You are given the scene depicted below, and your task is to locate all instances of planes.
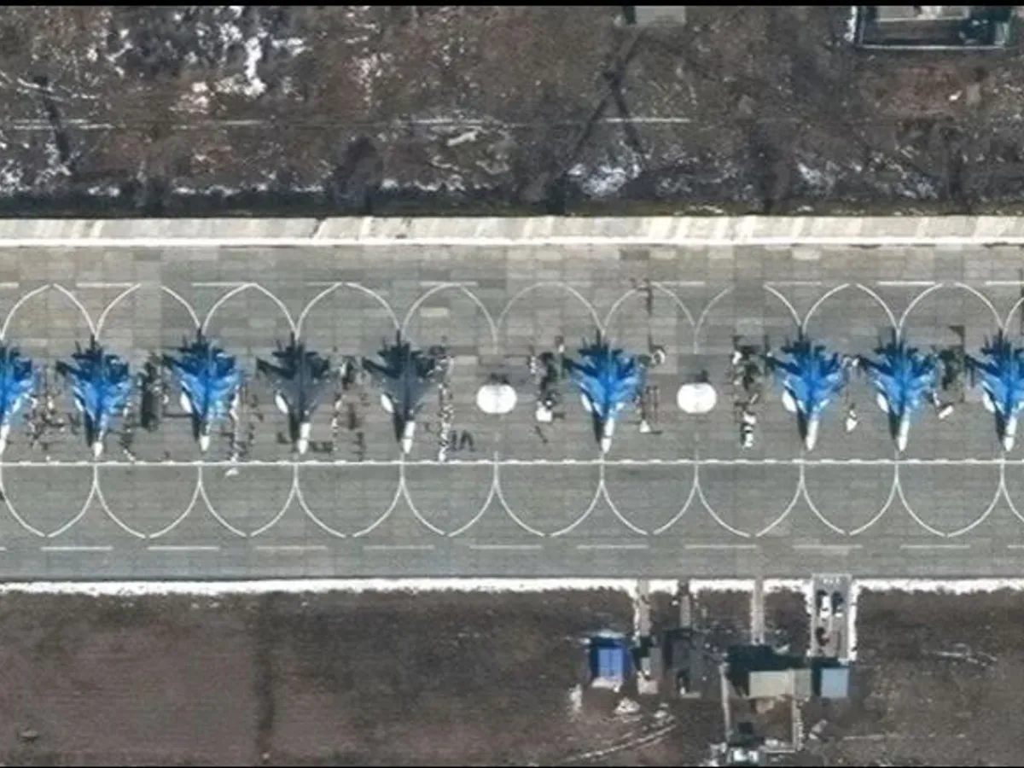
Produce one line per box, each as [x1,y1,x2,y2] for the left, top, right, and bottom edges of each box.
[572,339,641,452]
[373,338,443,452]
[777,338,845,450]
[979,340,1024,451]
[870,339,937,450]
[269,338,339,452]
[171,336,242,450]
[64,340,135,455]
[0,338,39,453]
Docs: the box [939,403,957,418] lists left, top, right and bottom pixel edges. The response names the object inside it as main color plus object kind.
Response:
white vehicle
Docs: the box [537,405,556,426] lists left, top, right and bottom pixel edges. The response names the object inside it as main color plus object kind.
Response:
white vehicle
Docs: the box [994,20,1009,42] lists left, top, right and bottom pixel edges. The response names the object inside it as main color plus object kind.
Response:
gray vehicle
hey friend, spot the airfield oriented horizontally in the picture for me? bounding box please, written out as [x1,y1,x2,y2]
[0,244,1024,584]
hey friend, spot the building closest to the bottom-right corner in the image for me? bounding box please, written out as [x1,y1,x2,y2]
[815,668,847,696]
